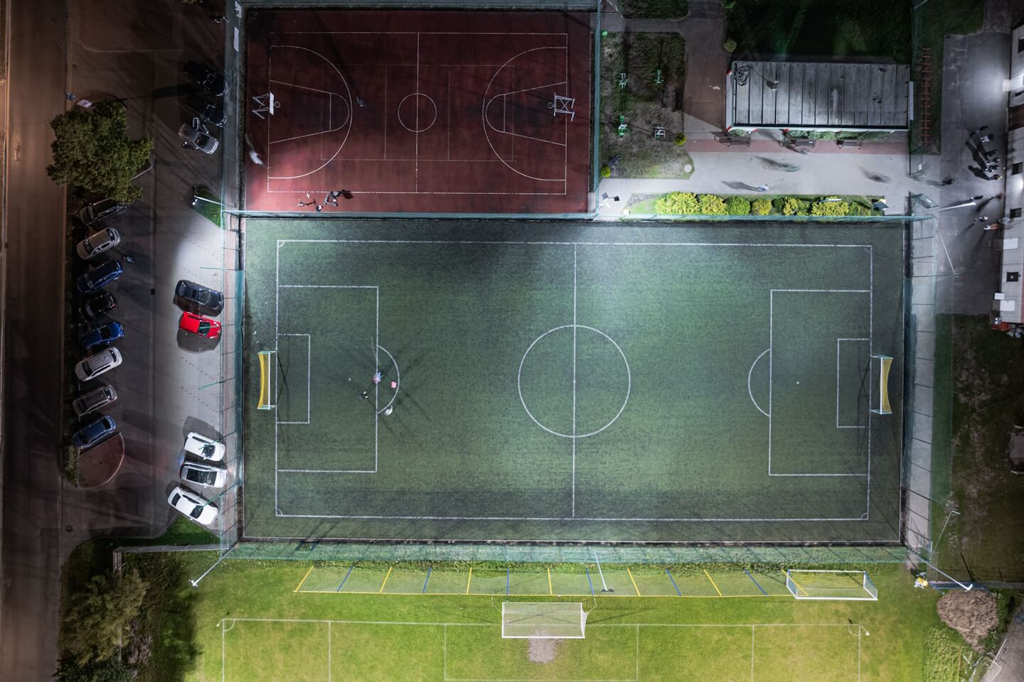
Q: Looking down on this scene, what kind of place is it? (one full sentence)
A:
The area seen from above is a sports ground.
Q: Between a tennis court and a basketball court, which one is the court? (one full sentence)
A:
The court is a basketball court.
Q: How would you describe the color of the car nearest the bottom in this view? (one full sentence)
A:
The car nearest the bottom is white.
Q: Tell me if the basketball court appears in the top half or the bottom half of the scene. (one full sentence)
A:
Seen from above, the basketball court lies in the top half of the view.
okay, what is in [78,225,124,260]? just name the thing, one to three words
car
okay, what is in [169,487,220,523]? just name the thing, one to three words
car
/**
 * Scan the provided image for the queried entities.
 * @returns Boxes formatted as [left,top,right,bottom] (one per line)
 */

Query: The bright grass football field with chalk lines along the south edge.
[213,611,917,682]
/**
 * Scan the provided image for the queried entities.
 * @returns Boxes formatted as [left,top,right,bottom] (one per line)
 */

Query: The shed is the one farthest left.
[724,60,912,131]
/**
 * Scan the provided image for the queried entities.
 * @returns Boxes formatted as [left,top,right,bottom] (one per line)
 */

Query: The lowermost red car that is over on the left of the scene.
[180,313,223,339]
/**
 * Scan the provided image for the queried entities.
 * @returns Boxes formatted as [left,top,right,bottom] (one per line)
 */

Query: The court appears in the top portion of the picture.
[245,10,593,213]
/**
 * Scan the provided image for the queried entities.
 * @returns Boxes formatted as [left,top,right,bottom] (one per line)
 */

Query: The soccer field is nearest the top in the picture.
[242,219,905,545]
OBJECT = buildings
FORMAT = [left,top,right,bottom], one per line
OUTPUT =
[724,60,912,131]
[1000,23,1024,327]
